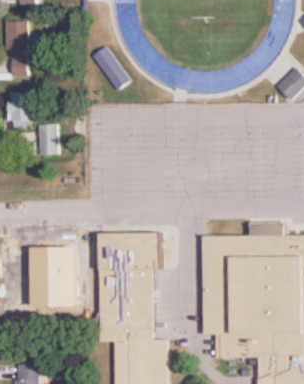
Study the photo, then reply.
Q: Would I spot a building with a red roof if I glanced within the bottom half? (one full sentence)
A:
No, no building with a red roof appears within the bottom half.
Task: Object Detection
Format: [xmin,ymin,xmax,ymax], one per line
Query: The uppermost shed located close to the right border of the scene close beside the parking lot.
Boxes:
[274,68,304,98]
